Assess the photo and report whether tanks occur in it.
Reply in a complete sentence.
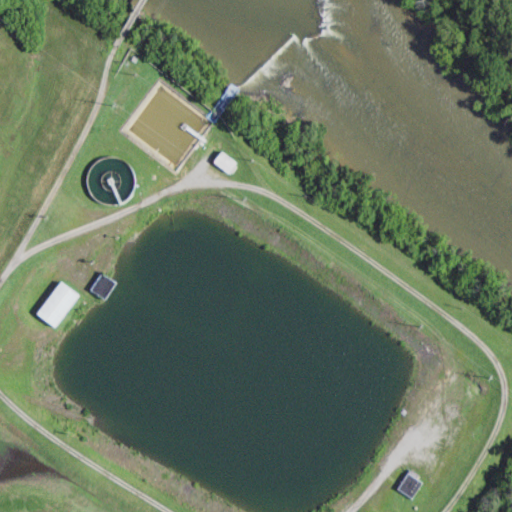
Yes, you can see a tank in this photo.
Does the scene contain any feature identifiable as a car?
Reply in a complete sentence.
No, I can see no car in this picture.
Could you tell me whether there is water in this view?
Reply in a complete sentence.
Yes, the picture does contain water.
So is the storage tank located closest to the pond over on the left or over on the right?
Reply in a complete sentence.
You can find the storage tank located closest to the pond on the left side of the picture.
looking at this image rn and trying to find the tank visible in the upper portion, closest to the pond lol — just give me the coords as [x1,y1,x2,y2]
[86,156,140,206]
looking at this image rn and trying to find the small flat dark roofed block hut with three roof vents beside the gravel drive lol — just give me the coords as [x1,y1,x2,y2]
[398,469,424,500]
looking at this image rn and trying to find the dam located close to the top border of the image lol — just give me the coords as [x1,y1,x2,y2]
[239,0,328,92]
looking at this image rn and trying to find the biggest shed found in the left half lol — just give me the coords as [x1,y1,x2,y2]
[36,282,80,328]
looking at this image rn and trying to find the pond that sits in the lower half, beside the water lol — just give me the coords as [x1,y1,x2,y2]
[54,210,414,512]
